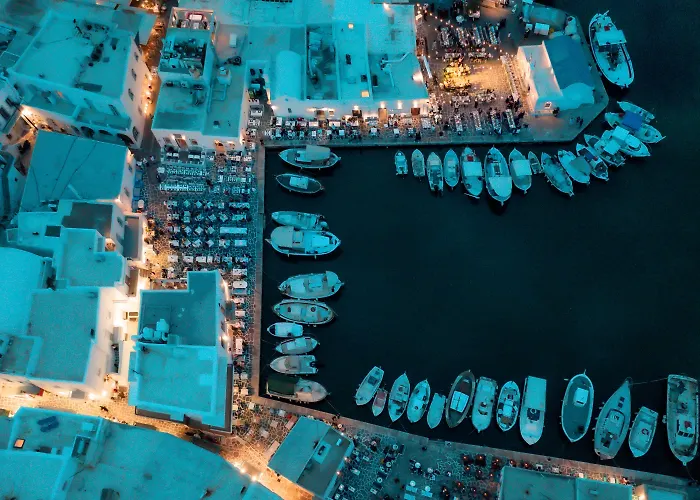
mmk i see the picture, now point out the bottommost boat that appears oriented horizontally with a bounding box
[265,377,340,415]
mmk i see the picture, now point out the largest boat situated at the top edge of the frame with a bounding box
[591,10,637,92]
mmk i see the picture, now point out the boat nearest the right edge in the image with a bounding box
[663,373,700,484]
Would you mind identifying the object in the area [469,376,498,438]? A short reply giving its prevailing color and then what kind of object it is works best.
blue boat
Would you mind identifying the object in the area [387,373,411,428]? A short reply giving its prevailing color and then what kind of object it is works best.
blue boat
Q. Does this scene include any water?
Yes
